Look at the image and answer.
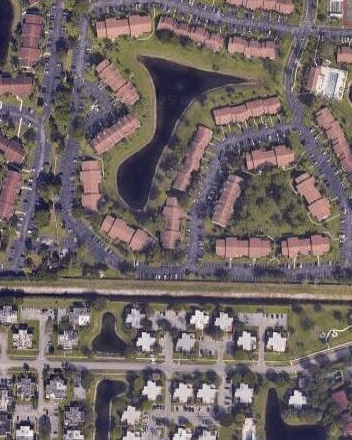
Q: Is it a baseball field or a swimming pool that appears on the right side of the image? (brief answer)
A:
swimming pool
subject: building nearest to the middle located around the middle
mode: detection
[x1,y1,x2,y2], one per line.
[164,196,183,250]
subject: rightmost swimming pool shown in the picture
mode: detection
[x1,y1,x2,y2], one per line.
[317,66,349,102]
